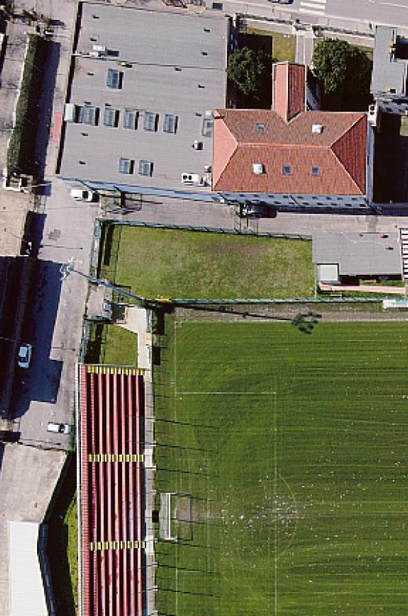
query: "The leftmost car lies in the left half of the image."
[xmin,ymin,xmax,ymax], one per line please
[17,344,34,369]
